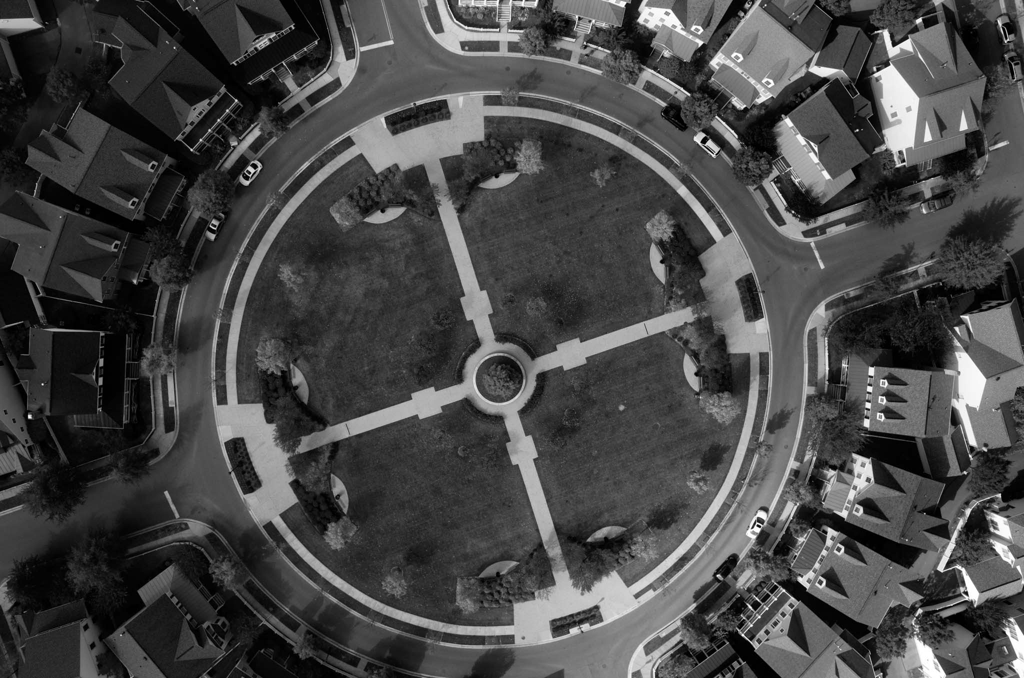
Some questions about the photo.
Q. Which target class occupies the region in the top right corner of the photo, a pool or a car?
car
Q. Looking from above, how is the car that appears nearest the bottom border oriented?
diagonally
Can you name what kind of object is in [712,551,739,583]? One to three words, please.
car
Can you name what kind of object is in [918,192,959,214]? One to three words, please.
truck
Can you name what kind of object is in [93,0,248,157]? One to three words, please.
house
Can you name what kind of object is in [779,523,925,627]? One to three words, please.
house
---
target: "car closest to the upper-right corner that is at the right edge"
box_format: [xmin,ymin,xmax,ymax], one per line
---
[994,12,1019,45]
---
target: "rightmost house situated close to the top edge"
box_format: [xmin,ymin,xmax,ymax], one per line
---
[870,7,1001,174]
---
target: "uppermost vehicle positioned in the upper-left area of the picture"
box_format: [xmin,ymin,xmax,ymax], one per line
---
[237,155,266,190]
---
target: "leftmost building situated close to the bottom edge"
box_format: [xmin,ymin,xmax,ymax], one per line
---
[25,595,115,678]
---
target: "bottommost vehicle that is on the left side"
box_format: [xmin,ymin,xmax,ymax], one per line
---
[202,210,229,243]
